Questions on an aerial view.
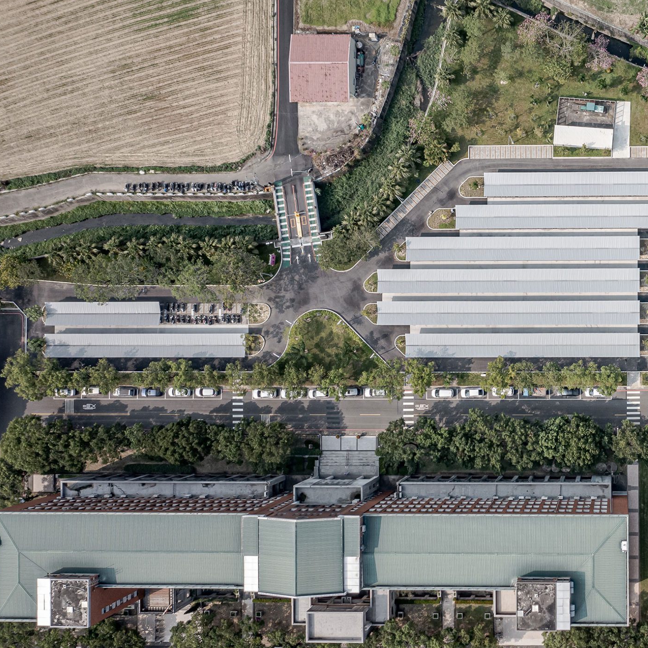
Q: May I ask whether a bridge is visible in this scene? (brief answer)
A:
Yes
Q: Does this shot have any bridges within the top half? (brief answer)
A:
Yes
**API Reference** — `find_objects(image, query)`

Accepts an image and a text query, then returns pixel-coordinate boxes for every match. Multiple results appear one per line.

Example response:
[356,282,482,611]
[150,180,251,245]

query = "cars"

[168,388,190,396]
[366,389,387,398]
[253,389,276,398]
[281,389,302,398]
[59,388,75,397]
[142,388,161,396]
[113,387,136,397]
[338,387,360,397]
[461,388,484,396]
[556,388,579,396]
[81,387,101,396]
[494,388,514,396]
[584,389,606,397]
[309,389,330,398]
[432,388,453,398]
[196,387,217,397]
